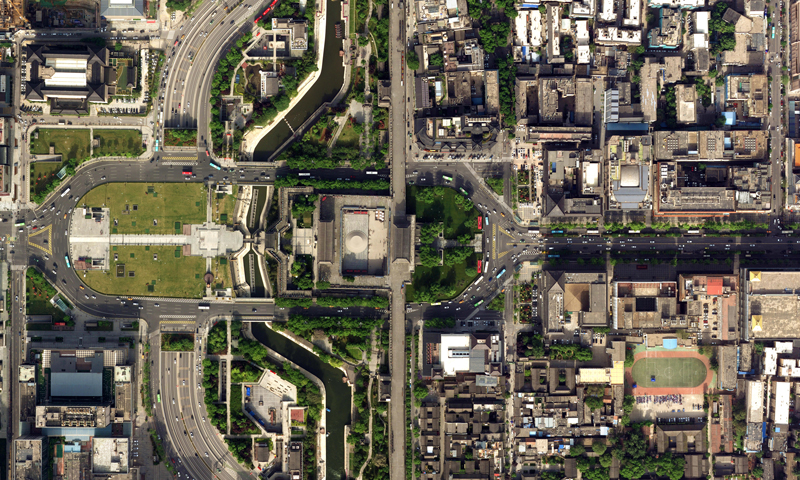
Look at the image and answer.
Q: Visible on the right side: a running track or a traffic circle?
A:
running track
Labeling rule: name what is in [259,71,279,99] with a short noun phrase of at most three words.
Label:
house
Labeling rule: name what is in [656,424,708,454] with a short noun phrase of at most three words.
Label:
building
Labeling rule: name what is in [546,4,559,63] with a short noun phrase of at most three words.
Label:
building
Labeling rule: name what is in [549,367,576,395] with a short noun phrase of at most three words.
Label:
house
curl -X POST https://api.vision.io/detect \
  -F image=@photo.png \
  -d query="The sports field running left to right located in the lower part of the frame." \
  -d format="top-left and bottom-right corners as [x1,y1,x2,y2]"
[632,358,707,387]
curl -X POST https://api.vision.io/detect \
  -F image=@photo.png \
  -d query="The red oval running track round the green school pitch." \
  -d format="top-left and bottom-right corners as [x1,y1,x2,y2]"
[626,351,714,396]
